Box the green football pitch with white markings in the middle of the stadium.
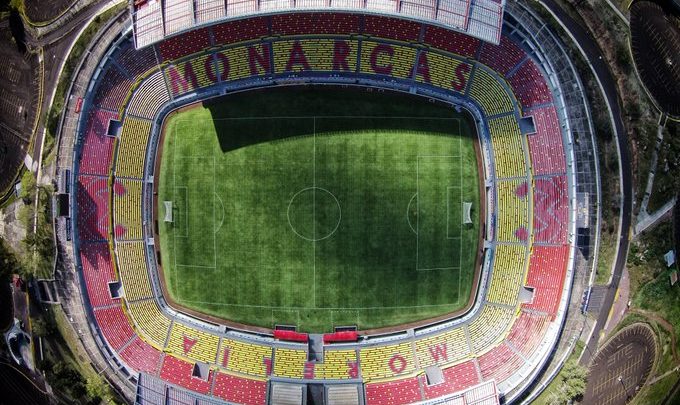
[153,84,485,339]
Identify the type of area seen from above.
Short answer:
sports ground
